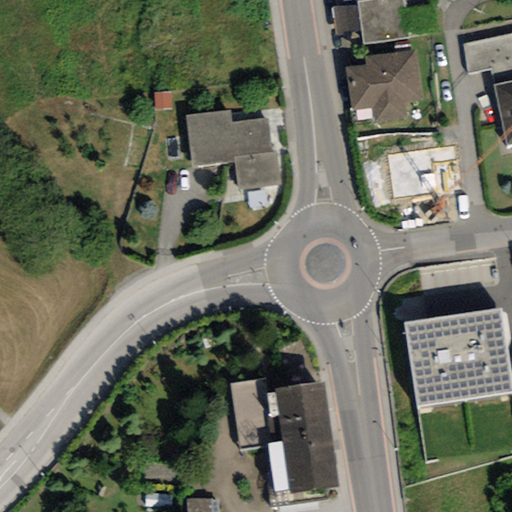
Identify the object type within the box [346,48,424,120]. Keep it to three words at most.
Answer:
house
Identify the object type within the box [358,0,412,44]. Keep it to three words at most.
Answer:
house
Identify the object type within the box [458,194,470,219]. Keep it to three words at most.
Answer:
vehicle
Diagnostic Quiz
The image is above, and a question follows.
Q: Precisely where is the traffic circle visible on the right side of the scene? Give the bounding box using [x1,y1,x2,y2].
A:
[264,203,382,325]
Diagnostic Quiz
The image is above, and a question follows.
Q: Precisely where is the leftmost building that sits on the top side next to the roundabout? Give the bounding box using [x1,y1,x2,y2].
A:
[186,110,281,190]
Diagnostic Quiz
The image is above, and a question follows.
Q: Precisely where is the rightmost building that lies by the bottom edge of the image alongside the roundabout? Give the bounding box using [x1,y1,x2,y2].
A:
[267,382,339,508]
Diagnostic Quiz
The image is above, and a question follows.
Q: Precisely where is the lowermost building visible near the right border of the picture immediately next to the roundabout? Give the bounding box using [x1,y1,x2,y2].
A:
[405,308,512,408]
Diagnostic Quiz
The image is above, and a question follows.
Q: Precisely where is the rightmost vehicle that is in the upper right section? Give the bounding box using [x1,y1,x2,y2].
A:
[476,92,494,122]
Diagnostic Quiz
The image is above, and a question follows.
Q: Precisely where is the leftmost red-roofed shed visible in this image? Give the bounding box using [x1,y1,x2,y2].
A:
[154,92,172,110]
